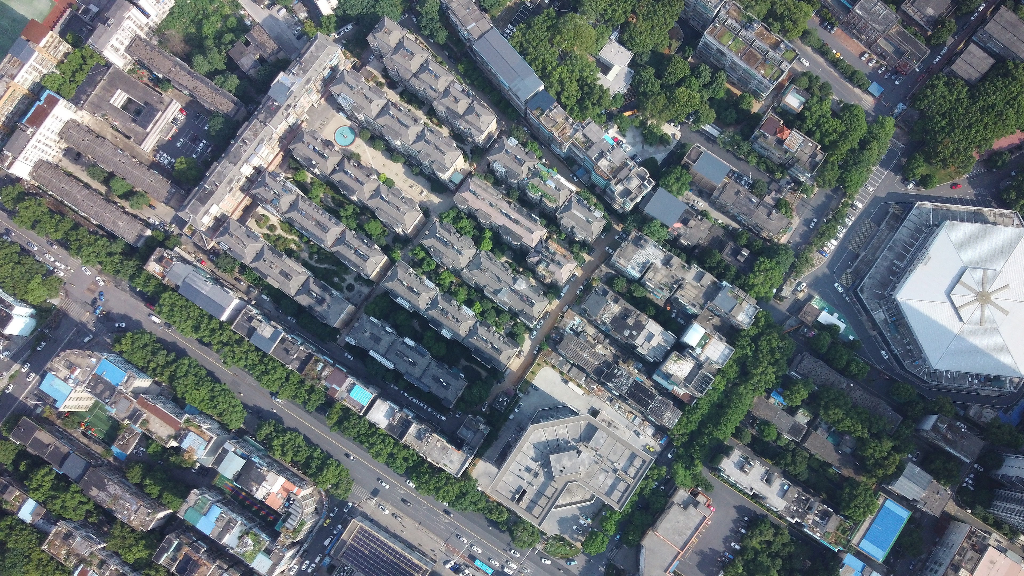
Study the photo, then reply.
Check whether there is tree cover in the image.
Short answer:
Yes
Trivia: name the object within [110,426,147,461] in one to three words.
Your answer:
house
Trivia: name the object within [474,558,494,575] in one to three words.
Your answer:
vehicle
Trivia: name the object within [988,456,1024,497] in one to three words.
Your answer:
building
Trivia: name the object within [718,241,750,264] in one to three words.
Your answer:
building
